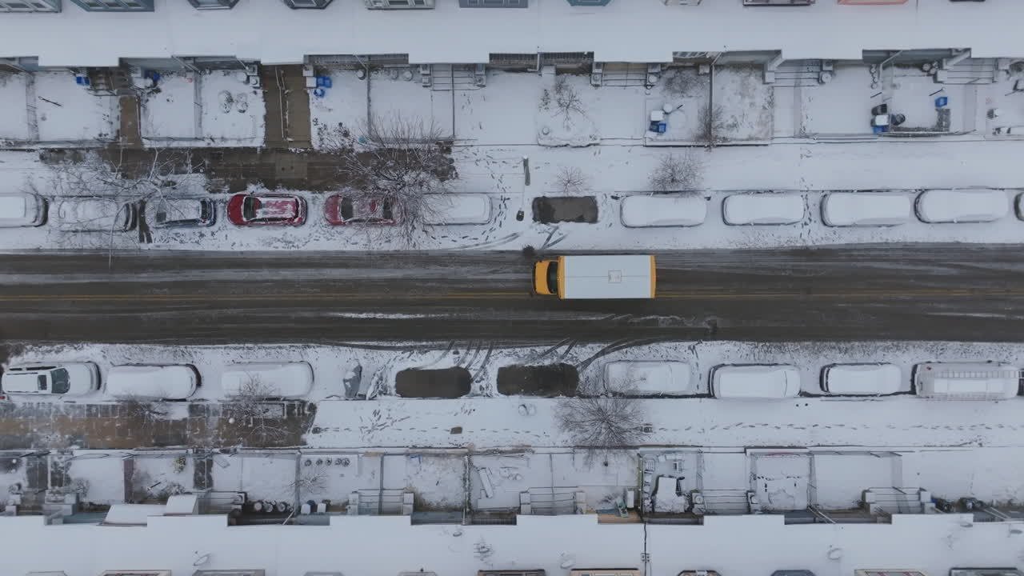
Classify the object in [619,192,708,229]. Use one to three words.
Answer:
vehicle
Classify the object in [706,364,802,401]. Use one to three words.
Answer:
car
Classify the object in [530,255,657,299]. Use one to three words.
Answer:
truck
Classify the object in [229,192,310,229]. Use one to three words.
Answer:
car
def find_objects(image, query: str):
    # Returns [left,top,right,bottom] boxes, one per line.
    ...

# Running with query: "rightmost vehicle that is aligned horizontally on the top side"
[911,188,1012,225]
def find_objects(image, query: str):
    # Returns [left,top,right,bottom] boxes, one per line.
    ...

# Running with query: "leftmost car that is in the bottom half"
[0,362,105,401]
